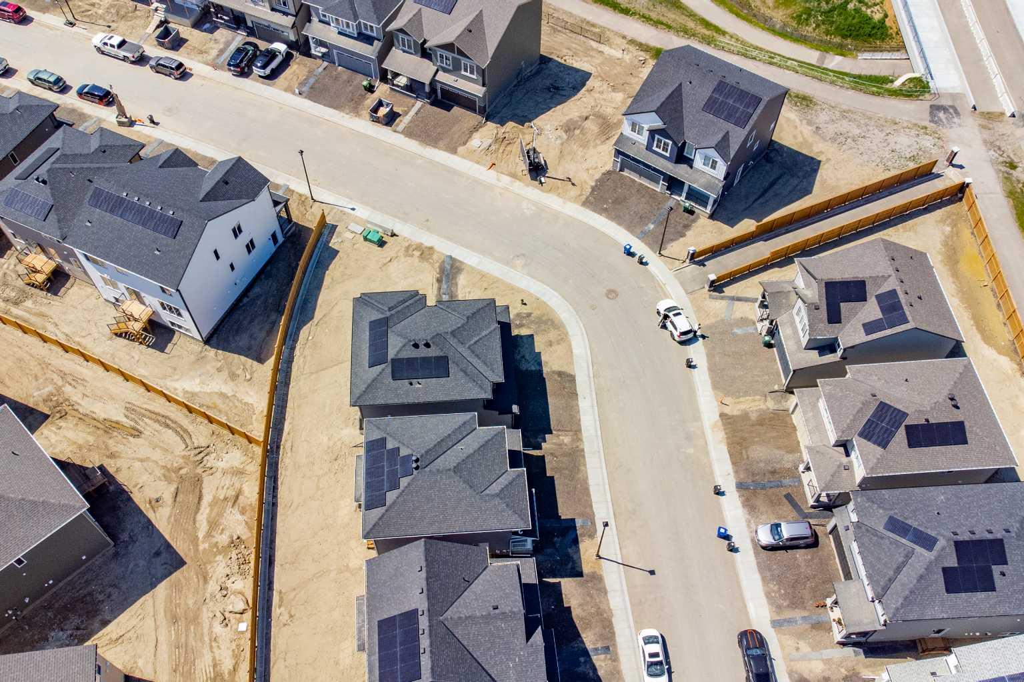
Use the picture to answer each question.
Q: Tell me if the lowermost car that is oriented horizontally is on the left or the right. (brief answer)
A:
right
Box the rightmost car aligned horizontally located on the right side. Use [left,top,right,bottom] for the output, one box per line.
[754,519,818,550]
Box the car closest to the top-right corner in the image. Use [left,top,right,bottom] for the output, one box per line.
[657,300,698,346]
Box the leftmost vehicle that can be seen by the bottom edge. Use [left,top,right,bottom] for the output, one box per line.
[637,629,669,682]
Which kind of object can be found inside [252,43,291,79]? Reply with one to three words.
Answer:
truck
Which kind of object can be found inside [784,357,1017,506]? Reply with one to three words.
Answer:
house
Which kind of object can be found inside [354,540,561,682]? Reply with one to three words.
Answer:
house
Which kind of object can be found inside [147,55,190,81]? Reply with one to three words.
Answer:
car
